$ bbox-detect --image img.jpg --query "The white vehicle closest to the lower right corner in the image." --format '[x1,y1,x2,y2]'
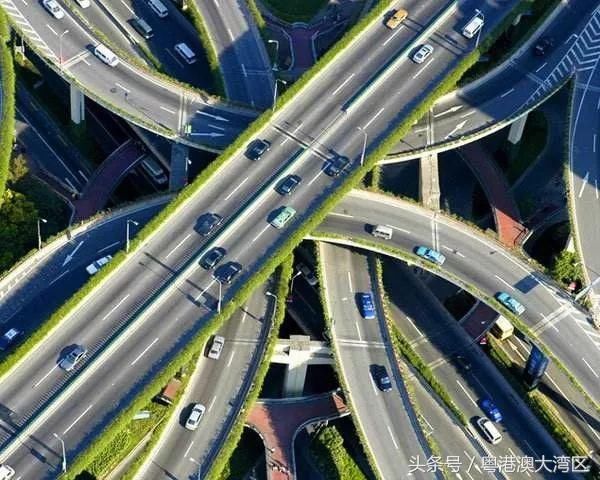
[478,417,503,445]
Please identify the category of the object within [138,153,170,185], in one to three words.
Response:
vehicle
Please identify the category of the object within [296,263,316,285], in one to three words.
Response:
car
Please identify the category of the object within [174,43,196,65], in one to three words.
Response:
vehicle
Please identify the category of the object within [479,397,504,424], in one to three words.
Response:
car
